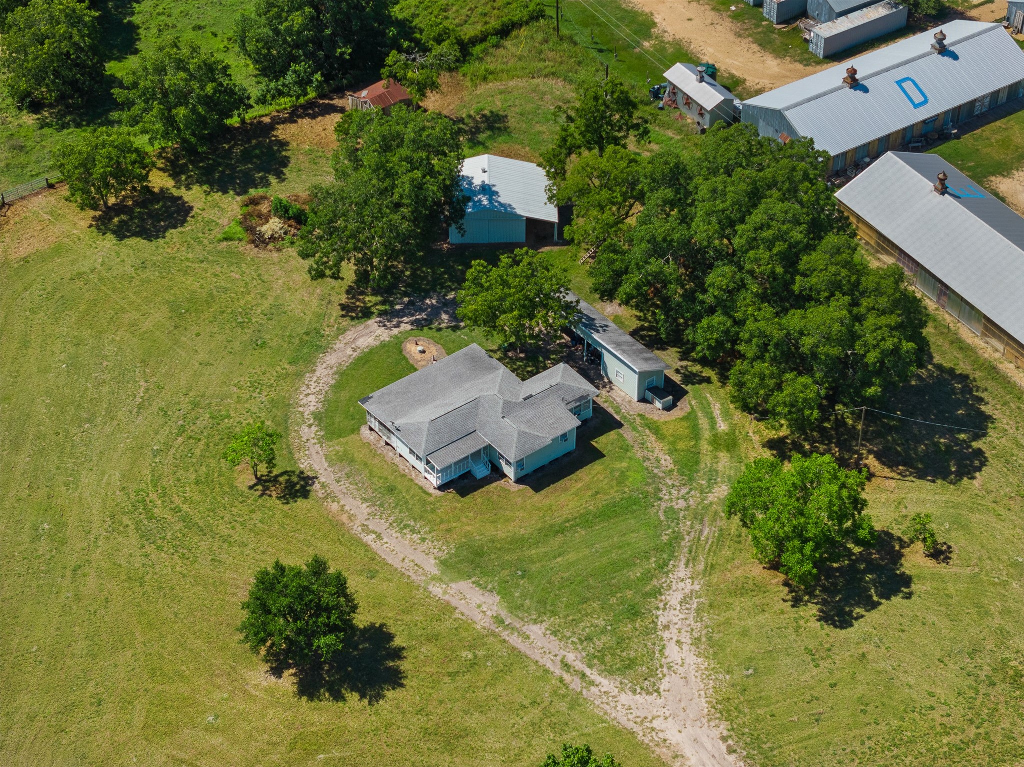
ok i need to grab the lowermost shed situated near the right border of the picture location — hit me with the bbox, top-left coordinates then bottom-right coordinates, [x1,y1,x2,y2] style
[832,152,1024,367]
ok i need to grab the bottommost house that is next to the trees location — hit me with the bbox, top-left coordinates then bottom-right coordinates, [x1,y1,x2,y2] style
[358,345,599,488]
